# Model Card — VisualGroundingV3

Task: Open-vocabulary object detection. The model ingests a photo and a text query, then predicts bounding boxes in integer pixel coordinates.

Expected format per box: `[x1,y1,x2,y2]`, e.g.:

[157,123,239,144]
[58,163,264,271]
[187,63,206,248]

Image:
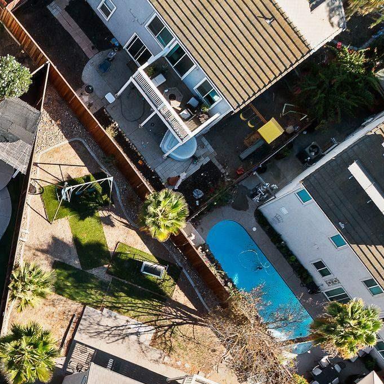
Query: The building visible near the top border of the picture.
[88,0,348,137]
